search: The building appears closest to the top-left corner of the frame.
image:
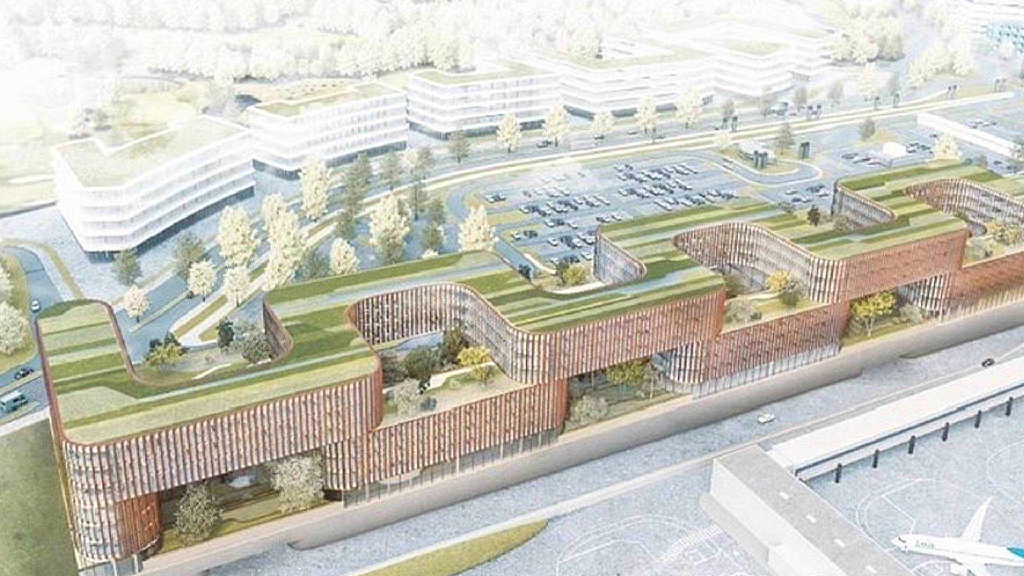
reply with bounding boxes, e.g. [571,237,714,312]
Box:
[51,116,253,259]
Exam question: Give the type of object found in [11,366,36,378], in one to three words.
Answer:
vehicle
